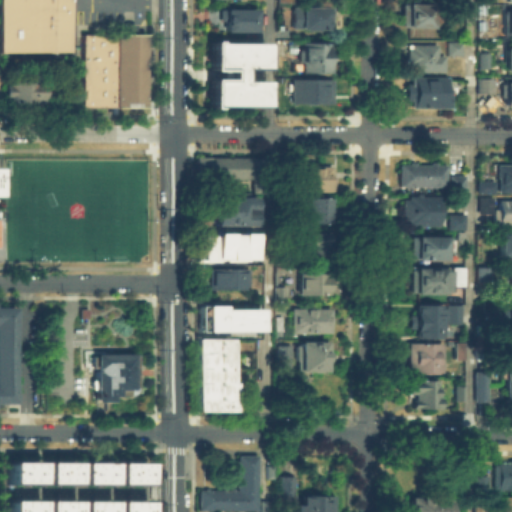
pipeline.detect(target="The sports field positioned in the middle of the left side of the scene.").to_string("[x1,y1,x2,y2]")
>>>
[8,160,149,262]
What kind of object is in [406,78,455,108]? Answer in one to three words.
house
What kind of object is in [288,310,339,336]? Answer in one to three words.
house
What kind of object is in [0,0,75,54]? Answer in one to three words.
building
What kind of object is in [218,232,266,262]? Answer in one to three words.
building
